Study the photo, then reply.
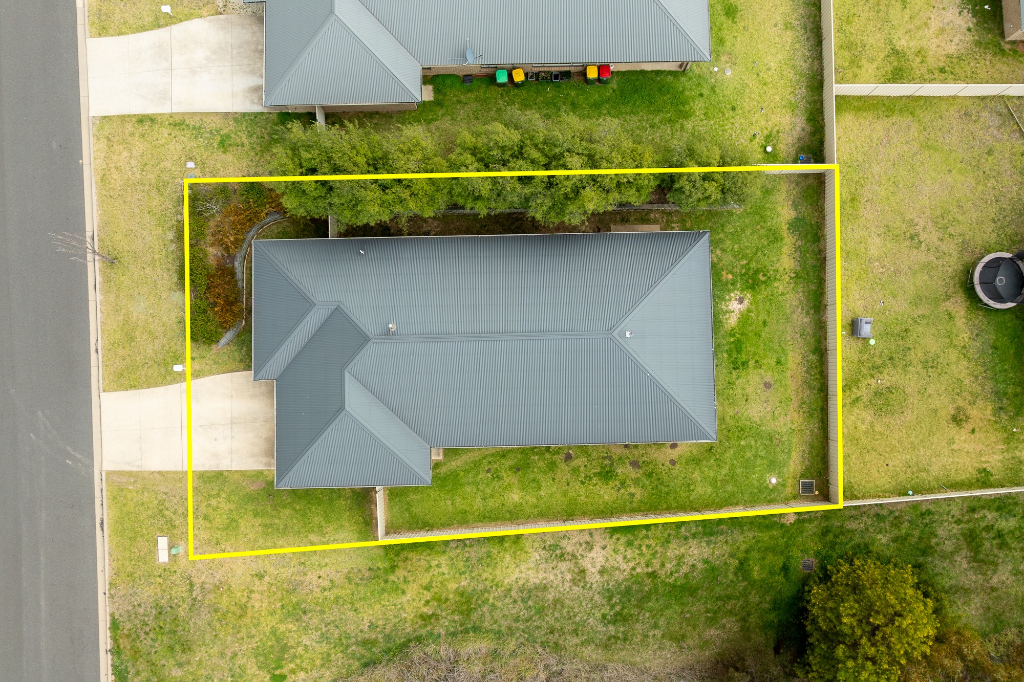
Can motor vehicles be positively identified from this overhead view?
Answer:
No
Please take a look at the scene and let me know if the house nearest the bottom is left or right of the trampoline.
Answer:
to its left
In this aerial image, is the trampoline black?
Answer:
Yes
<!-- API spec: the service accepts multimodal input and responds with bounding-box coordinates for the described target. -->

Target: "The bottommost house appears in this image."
[253,231,717,488]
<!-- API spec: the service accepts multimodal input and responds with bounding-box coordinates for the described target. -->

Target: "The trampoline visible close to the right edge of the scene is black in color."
[963,251,1024,312]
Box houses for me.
[253,231,717,488]
[1002,0,1024,40]
[259,0,711,113]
